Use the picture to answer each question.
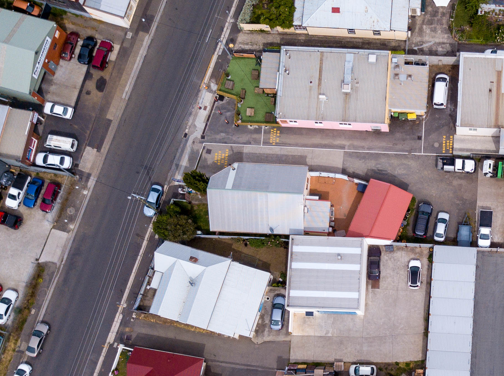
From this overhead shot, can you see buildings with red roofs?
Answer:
Yes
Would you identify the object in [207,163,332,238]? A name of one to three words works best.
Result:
house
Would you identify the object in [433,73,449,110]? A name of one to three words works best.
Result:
vehicle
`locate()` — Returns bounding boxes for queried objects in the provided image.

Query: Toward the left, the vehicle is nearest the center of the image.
[143,184,165,217]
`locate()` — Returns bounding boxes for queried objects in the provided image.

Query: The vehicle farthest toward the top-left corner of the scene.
[10,0,45,18]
